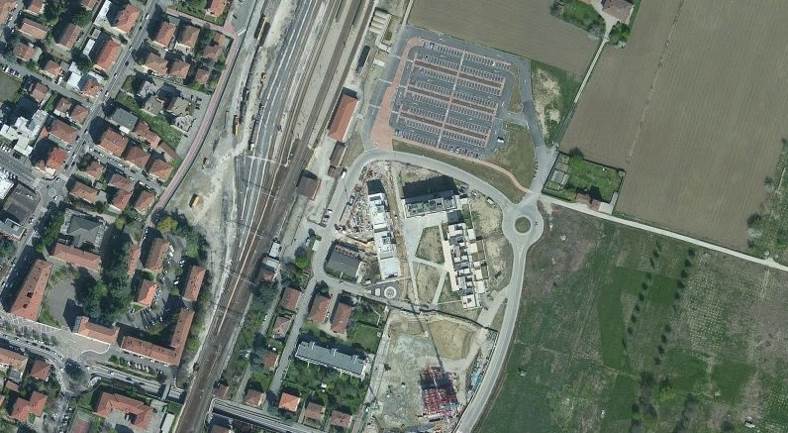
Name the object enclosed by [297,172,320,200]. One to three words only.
shed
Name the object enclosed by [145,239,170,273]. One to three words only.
house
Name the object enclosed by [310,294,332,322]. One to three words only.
house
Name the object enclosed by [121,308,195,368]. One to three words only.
building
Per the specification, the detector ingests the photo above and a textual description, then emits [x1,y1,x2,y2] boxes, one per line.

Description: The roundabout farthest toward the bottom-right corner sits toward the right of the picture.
[503,205,542,244]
